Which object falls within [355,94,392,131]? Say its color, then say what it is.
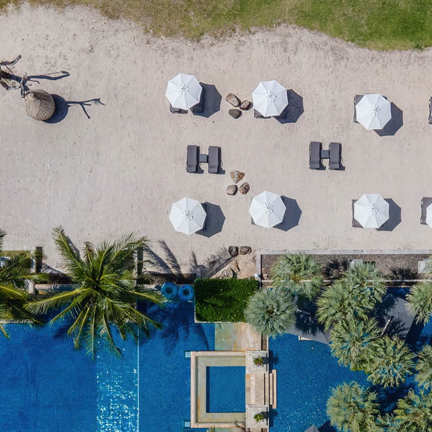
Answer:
white umbrella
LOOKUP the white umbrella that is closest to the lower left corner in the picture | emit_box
[170,198,206,235]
